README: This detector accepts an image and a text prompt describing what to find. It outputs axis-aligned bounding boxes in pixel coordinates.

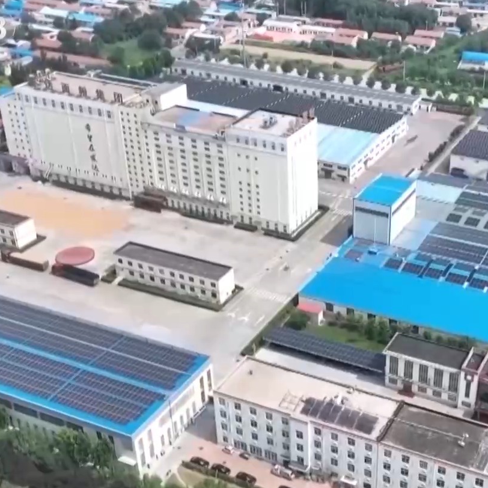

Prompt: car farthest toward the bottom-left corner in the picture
[187,452,212,467]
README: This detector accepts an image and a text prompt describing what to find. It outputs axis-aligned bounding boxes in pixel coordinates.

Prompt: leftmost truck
[0,250,48,273]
